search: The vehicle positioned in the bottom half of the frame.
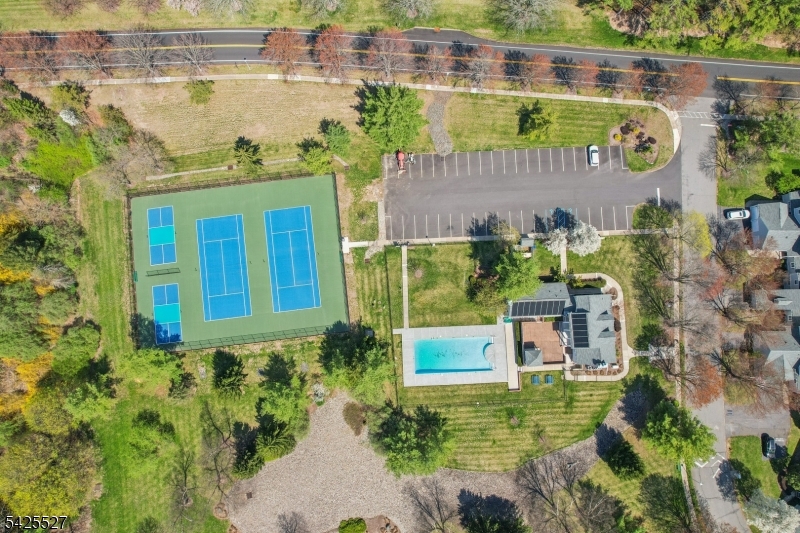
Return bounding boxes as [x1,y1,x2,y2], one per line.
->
[762,436,777,458]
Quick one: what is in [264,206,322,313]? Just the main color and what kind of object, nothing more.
blue tennis court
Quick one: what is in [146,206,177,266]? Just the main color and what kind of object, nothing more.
blue sports court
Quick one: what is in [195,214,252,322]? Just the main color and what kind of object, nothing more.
blue tennis court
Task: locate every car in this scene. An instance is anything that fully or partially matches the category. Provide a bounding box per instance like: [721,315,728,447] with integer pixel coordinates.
[723,209,746,220]
[588,145,598,166]
[762,436,777,458]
